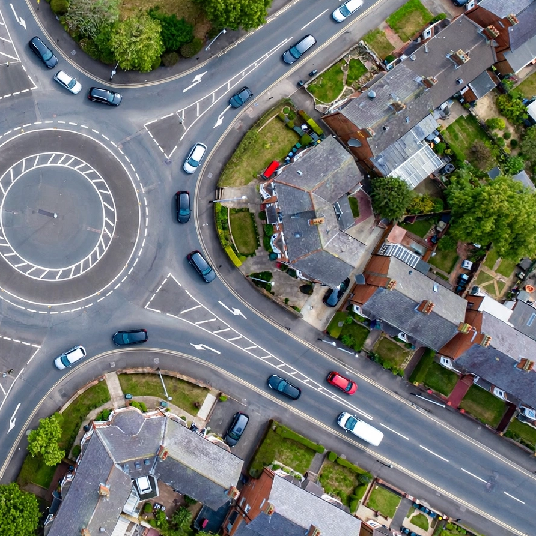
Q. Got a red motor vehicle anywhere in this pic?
Yes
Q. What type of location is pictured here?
residential area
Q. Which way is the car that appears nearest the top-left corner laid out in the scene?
on a diagonal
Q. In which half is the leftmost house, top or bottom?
bottom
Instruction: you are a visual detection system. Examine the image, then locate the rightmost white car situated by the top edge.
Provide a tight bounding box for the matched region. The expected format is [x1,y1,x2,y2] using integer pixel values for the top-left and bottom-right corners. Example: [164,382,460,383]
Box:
[329,0,365,23]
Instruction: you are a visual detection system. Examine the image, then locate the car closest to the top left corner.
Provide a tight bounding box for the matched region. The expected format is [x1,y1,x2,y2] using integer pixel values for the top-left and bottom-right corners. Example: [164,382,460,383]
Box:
[27,33,60,70]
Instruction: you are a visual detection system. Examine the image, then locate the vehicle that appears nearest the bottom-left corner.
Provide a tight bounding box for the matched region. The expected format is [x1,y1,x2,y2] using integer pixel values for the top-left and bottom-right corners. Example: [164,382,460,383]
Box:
[53,343,88,370]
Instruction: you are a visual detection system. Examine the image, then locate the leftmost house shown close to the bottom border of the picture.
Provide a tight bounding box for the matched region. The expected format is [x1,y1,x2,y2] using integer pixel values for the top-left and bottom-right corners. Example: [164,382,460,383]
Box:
[42,401,242,536]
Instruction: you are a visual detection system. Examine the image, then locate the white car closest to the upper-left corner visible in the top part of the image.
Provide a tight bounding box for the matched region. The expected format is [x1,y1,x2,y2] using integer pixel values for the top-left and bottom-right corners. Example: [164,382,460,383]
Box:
[51,66,83,97]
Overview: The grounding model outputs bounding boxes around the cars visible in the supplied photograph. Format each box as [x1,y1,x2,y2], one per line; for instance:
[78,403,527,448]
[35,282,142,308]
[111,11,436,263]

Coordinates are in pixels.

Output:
[175,189,193,223]
[181,141,204,176]
[224,410,248,446]
[322,368,357,395]
[27,33,60,70]
[329,0,365,23]
[114,328,148,347]
[221,79,257,113]
[53,343,88,370]
[186,248,215,285]
[279,33,318,65]
[51,66,83,97]
[265,372,304,402]
[86,83,124,109]
[321,280,350,310]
